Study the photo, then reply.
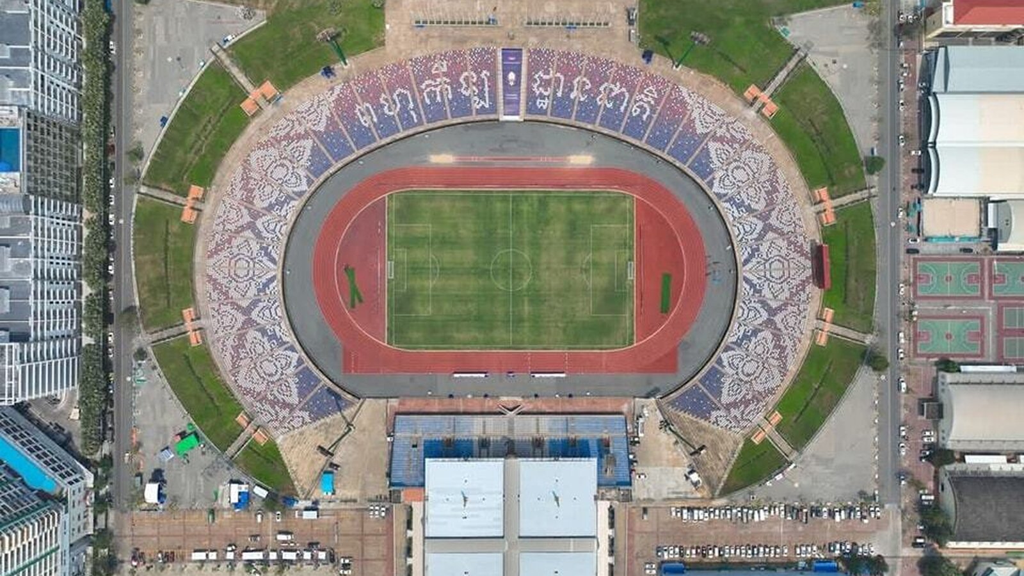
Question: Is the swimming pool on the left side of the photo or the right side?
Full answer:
You can find the swimming pool on the left side of the picture.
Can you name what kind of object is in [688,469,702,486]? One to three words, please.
vehicle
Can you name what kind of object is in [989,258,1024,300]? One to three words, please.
basketball court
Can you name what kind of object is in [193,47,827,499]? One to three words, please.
stadium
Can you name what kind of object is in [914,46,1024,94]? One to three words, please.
building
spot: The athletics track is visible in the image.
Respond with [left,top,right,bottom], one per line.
[314,152,706,373]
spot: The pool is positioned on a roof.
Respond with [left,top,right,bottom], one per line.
[0,438,55,493]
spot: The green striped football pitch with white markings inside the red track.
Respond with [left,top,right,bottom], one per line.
[386,189,635,351]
